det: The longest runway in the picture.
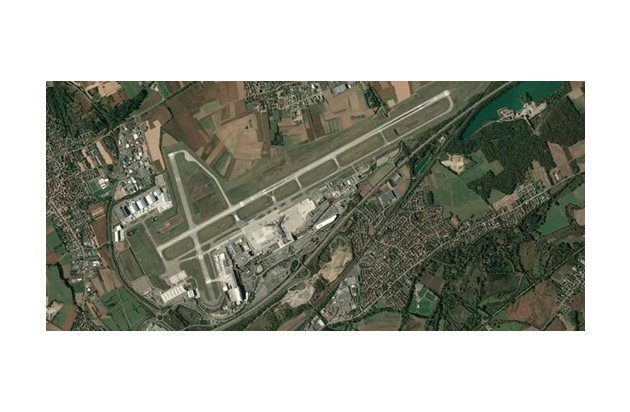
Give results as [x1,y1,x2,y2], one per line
[156,89,452,252]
